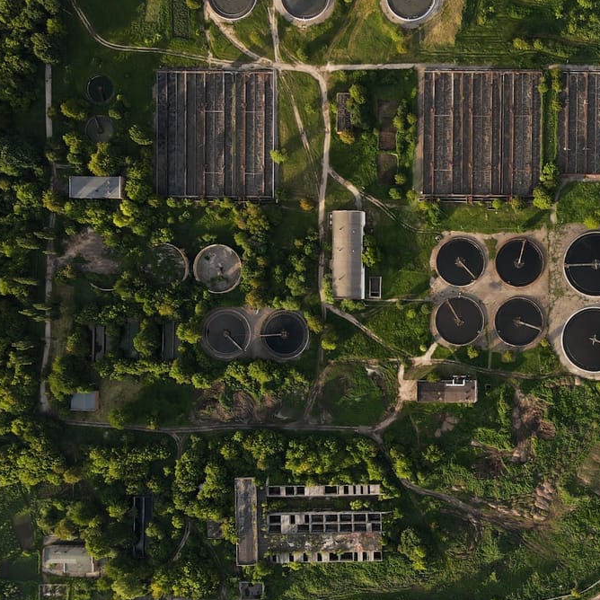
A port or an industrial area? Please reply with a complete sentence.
This image shows an industrial area.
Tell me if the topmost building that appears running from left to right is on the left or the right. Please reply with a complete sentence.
The topmost building that appears running from left to right appears in the left half of the scene.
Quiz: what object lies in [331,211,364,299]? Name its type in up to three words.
building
